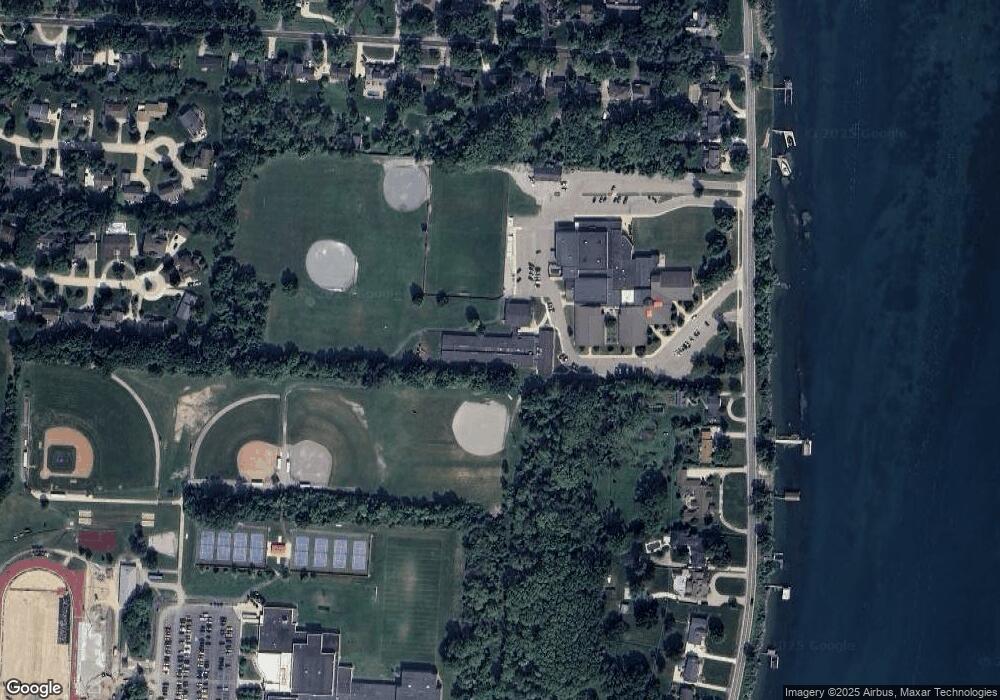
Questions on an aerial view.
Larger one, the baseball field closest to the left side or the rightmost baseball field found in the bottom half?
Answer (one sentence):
The baseball field closest to the left side takes up more space than the rightmost baseball field found in the bottom half does.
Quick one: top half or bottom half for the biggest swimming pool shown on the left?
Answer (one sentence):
The biggest swimming pool shown on the left sits in the top half of the picture.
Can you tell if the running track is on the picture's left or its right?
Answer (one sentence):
The running track sits on the left side.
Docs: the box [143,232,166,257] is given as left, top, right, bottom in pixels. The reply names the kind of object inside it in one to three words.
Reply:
house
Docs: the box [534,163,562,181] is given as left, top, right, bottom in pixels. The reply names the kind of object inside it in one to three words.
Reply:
building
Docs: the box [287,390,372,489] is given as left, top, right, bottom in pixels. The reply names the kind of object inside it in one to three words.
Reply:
baseball field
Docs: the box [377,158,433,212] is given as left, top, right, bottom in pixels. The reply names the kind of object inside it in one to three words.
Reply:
baseball field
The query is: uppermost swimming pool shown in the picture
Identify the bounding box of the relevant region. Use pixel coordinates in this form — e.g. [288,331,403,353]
[364,79,385,99]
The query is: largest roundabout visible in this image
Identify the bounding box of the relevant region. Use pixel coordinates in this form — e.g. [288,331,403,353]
[138,268,169,301]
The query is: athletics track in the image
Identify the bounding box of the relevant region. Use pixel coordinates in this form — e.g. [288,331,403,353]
[0,559,86,700]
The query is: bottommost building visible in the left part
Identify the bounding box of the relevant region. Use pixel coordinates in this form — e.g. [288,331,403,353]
[242,608,438,700]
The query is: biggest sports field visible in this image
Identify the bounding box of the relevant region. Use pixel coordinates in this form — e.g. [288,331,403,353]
[237,154,500,350]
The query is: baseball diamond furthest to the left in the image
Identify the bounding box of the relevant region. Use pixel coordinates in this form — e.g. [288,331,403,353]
[26,374,160,489]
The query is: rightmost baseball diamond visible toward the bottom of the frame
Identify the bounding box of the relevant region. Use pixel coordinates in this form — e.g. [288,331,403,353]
[452,401,508,456]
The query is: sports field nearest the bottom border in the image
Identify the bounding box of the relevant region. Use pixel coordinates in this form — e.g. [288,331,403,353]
[376,533,461,664]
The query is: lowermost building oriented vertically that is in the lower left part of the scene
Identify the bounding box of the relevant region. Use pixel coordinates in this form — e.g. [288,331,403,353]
[119,565,136,610]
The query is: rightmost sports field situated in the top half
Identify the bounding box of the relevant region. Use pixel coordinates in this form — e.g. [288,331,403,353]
[425,164,507,296]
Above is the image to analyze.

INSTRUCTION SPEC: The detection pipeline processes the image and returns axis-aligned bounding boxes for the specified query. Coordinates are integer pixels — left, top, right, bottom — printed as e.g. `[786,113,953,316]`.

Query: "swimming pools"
[364,79,385,99]
[646,539,662,552]
[107,223,127,233]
